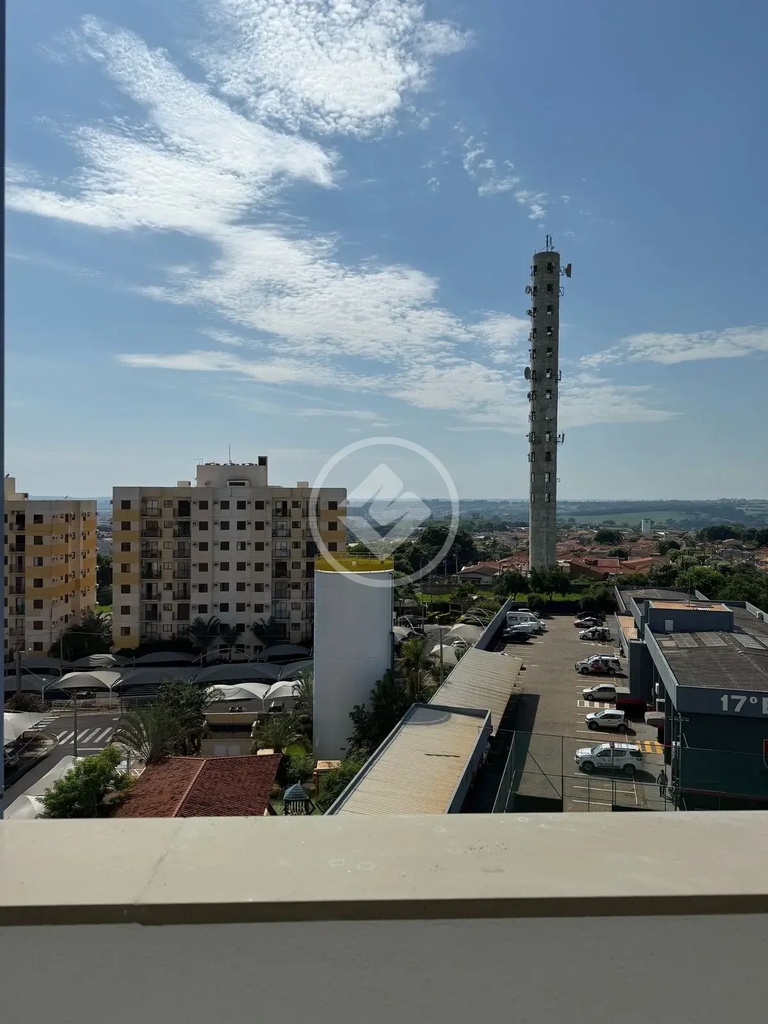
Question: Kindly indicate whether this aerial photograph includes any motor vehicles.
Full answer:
Yes, I can see a motor vehicle in this picture.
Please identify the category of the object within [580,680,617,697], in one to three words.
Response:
car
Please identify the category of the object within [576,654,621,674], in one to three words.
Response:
car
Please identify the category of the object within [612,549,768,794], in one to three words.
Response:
building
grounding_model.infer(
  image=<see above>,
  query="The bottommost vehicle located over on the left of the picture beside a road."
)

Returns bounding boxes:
[3,739,48,765]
